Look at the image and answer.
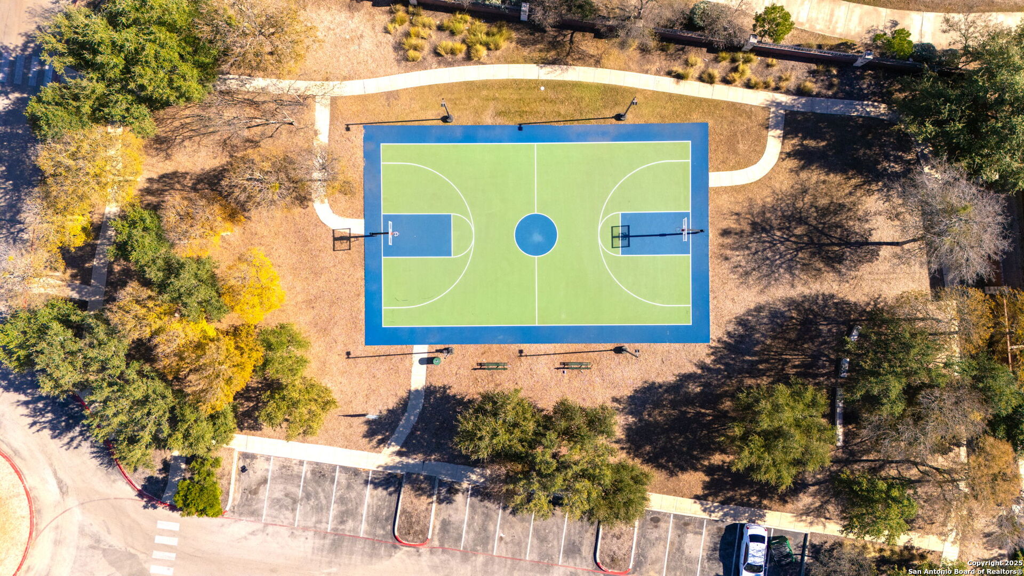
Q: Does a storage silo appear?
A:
No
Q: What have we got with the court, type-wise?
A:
basketball court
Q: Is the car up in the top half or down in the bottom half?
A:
bottom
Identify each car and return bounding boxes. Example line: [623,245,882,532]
[738,524,769,576]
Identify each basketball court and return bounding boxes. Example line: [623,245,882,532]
[364,123,709,345]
